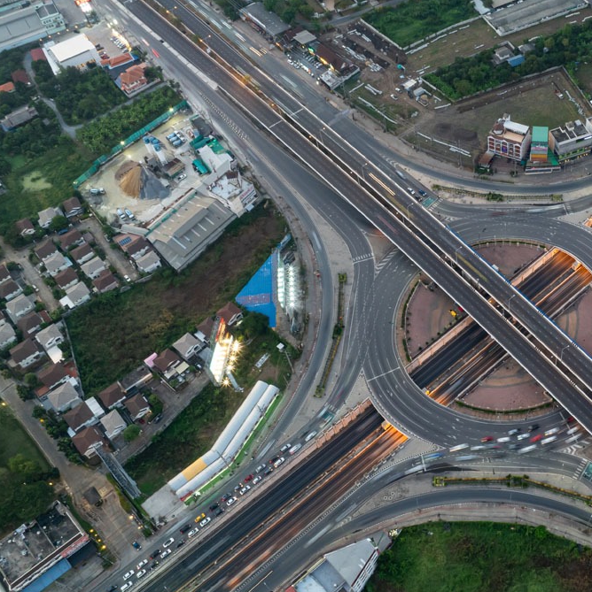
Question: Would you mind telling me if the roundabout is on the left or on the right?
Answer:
right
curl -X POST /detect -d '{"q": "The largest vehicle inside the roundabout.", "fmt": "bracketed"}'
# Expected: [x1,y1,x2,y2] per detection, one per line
[446,440,472,454]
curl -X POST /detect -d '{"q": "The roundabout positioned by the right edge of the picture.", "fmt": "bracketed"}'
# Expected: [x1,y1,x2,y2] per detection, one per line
[356,210,592,461]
